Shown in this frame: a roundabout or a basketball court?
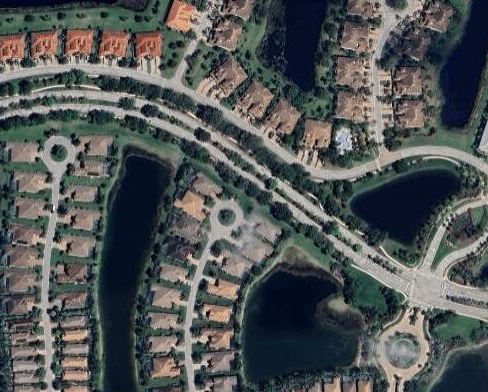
roundabout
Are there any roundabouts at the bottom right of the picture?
Yes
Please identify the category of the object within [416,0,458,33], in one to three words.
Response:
house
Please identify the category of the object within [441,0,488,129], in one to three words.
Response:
pond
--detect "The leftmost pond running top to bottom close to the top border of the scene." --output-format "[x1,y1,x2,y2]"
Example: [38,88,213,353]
[286,0,330,92]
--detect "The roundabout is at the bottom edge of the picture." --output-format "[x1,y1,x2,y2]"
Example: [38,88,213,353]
[376,324,429,376]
